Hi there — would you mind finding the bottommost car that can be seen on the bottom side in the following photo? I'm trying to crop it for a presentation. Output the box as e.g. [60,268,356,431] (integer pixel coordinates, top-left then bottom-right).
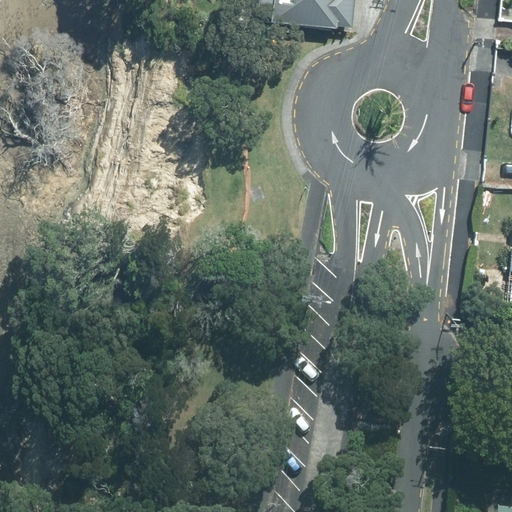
[284,453,306,478]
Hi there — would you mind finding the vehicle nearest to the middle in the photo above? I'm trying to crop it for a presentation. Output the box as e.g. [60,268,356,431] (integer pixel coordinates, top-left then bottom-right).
[296,358,320,382]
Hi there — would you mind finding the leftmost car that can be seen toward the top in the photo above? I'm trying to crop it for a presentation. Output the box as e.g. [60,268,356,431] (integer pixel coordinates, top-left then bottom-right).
[460,84,474,113]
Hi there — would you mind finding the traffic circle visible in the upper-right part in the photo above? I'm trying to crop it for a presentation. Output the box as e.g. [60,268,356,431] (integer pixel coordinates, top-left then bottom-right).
[332,88,428,162]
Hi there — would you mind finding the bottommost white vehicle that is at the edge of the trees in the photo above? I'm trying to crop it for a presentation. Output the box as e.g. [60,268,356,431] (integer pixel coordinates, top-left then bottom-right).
[290,408,311,436]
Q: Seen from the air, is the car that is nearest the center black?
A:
No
